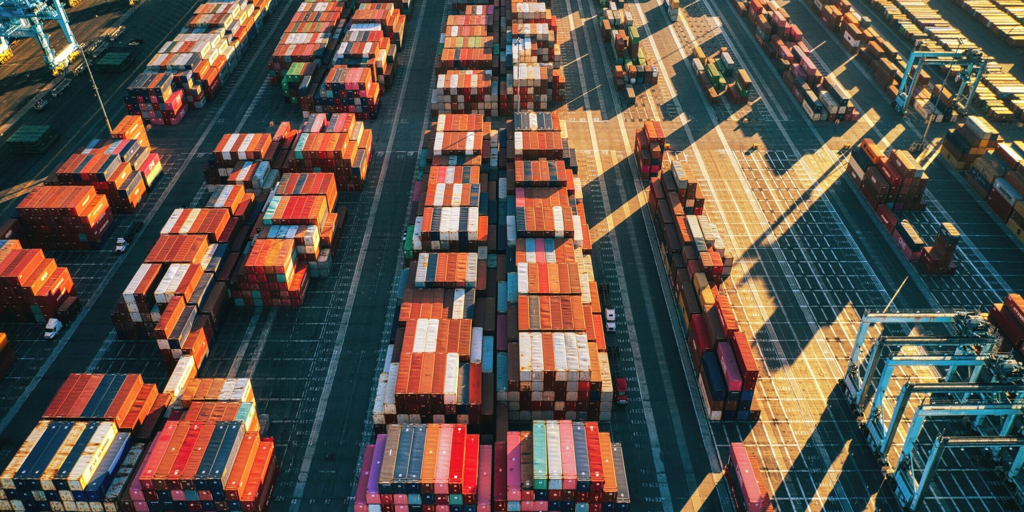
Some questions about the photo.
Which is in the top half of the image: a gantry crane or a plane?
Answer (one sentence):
There is a gantry crane in the top half of the image.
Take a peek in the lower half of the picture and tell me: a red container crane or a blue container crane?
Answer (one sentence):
Visible in the lower half of the picture is a blue container crane.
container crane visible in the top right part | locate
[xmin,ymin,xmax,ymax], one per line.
[893,44,997,118]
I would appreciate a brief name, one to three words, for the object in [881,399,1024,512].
container crane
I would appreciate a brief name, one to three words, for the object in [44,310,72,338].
truck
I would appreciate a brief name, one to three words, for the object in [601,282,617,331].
vehicle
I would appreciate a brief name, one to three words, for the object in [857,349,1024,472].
container crane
